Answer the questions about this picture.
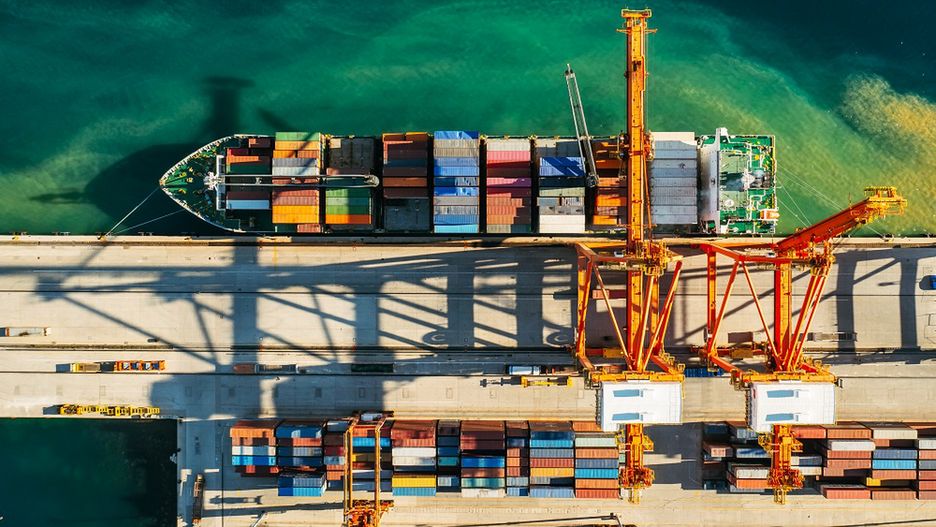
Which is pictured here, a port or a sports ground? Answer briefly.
port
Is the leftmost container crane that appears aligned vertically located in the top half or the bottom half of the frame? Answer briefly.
bottom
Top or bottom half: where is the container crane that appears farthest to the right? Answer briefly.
bottom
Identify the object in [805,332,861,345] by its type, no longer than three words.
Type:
vehicle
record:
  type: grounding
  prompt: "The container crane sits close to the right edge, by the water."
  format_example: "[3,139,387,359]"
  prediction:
[675,192,917,506]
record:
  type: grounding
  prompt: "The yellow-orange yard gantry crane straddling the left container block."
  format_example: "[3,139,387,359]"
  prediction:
[343,399,397,527]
